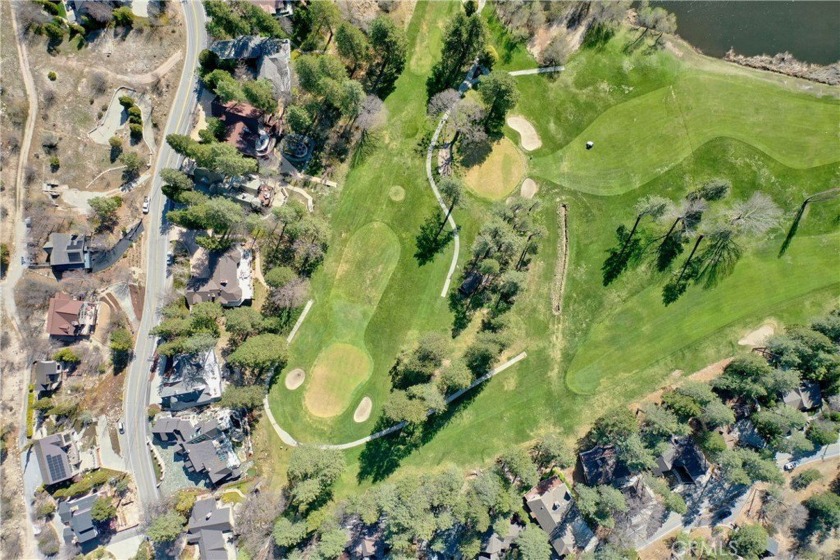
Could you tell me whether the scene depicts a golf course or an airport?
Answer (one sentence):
What you see here is a golf course.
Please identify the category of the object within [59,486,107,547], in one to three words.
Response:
house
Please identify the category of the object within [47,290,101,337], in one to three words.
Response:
house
